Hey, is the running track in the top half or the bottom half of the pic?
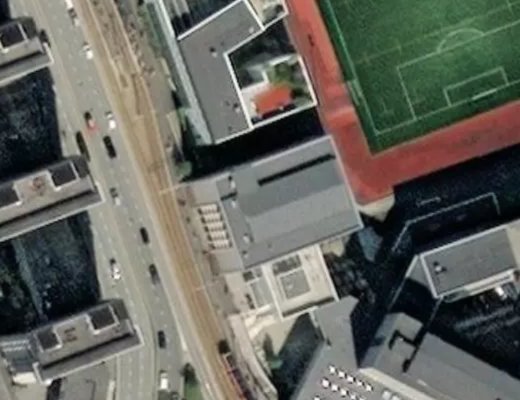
top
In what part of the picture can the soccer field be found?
top right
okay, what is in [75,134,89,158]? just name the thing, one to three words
vehicle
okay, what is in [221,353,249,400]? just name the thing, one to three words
train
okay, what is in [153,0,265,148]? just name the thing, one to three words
building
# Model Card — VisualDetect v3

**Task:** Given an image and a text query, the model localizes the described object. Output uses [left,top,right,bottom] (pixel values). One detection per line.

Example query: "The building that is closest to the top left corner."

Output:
[0,19,53,84]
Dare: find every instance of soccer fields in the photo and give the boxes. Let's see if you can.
[319,0,520,155]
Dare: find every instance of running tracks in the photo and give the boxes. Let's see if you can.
[287,0,520,201]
